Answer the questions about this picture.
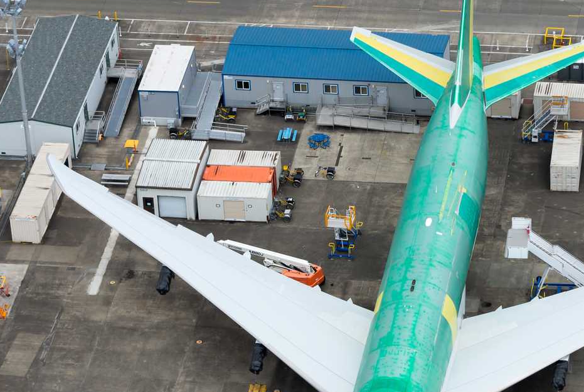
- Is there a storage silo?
No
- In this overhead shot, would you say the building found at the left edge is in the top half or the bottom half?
top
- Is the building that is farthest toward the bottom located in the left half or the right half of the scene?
left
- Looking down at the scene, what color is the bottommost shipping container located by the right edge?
white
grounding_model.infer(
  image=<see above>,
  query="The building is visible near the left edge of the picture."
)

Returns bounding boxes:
[0,10,119,159]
